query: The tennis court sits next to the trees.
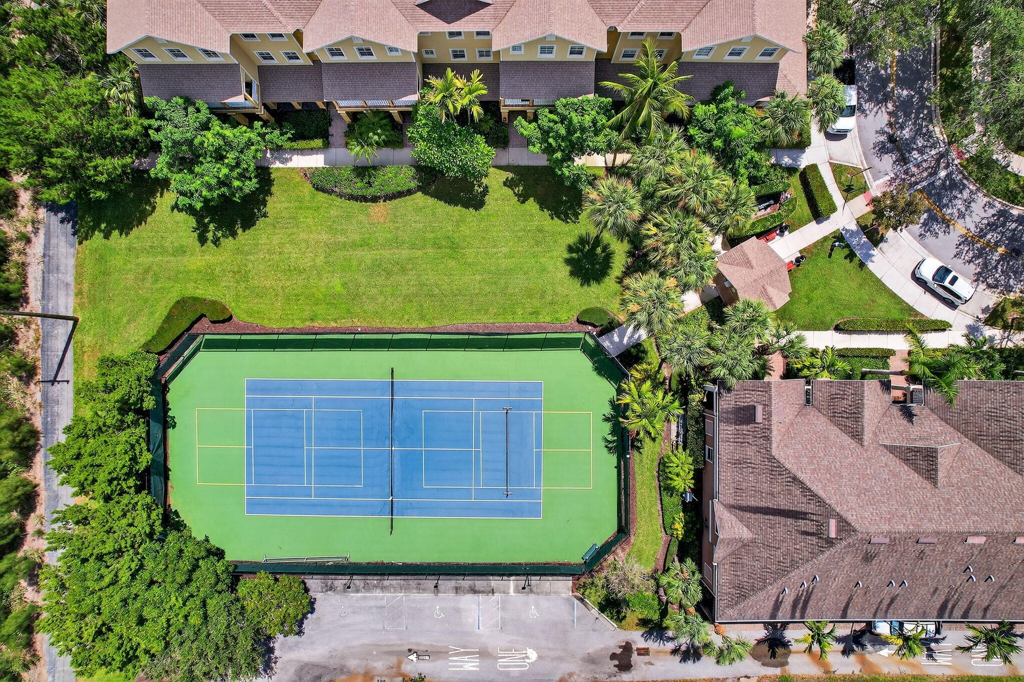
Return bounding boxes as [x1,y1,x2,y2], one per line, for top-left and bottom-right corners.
[168,333,622,562]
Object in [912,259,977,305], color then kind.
white car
